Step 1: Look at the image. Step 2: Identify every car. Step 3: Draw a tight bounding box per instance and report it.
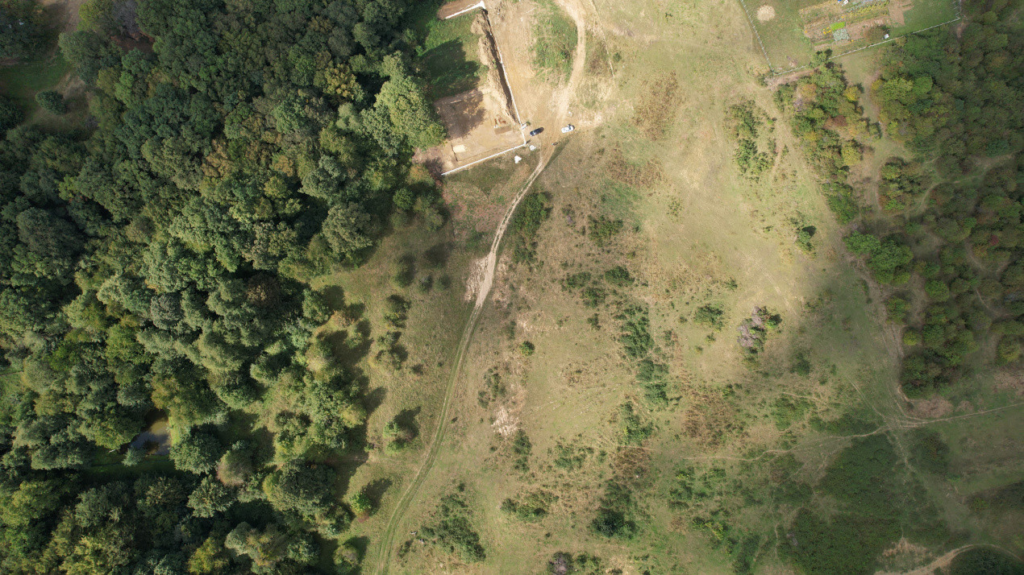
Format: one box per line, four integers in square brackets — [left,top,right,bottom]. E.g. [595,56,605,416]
[560,122,575,133]
[530,125,544,136]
